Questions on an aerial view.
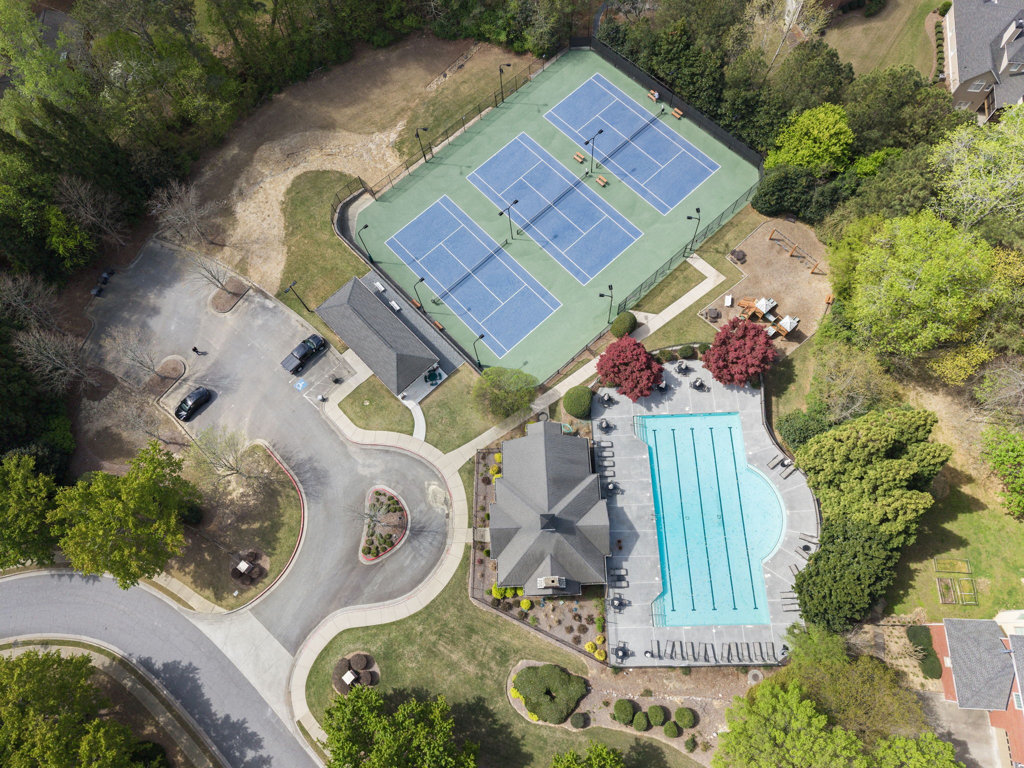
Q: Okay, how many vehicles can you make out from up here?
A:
2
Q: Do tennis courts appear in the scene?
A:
Yes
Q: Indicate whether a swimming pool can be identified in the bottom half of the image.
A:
Yes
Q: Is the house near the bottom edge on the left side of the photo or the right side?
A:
right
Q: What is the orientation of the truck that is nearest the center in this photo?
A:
on a diagonal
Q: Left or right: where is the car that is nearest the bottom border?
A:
left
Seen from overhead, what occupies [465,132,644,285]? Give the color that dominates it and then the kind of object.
blue tennis court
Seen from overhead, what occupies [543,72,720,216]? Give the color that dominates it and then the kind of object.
blue tennis court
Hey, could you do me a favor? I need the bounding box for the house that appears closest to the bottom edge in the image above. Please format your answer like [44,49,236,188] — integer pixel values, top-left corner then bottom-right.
[902,608,1024,768]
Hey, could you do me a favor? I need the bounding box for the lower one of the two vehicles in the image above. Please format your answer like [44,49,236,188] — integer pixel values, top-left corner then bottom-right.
[176,386,210,419]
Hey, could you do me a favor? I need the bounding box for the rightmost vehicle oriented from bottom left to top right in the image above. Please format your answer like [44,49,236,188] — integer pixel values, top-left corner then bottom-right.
[279,335,326,373]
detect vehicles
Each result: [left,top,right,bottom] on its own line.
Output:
[279,335,326,373]
[176,386,210,419]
